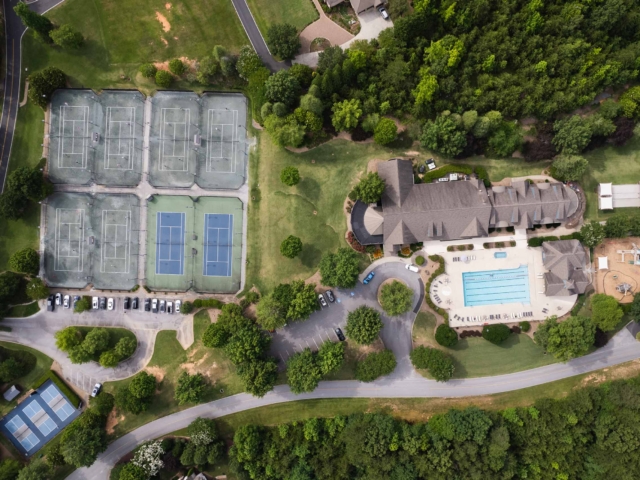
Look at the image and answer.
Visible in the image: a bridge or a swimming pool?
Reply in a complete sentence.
I can see a swimming pool in this picture.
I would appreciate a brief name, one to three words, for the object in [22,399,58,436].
sports court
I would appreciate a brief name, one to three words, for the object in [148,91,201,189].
tennis court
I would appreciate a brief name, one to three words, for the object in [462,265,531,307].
swimming pool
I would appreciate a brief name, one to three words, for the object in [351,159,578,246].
building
